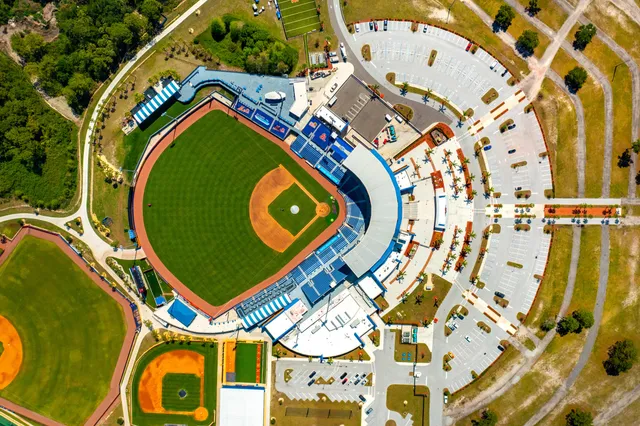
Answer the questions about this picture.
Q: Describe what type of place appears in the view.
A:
sports ground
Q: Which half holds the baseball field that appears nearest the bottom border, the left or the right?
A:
left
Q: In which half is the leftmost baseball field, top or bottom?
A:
bottom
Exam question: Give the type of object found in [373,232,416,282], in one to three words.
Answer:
building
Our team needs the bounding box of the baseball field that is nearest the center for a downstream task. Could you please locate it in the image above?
[134,99,348,317]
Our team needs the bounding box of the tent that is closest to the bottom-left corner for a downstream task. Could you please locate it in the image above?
[168,297,198,327]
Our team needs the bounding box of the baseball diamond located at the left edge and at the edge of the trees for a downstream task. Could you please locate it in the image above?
[0,225,138,426]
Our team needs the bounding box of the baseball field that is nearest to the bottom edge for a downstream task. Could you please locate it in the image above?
[131,342,217,426]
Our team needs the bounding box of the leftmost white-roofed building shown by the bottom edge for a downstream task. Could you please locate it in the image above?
[221,383,266,426]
